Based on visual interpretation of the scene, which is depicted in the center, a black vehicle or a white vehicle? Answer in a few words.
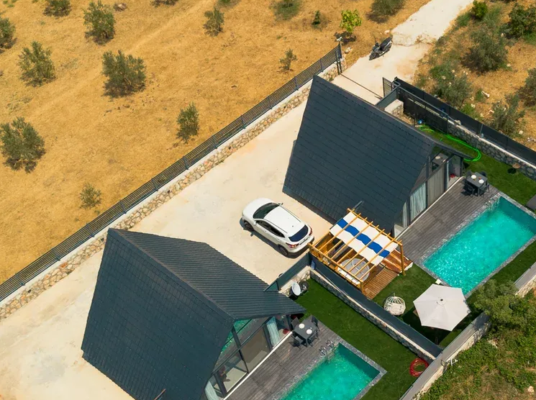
white vehicle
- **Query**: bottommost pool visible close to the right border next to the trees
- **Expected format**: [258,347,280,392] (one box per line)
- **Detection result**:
[416,192,536,301]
